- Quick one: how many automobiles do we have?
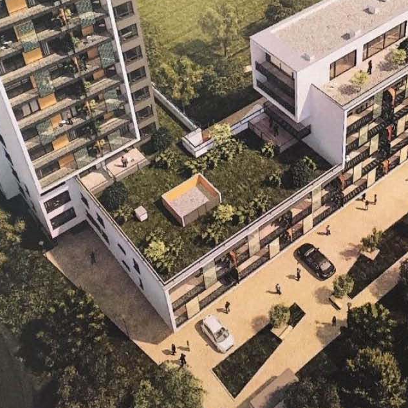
2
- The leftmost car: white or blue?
white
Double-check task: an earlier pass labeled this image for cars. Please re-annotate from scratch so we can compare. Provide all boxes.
[294,239,336,279]
[197,311,236,354]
